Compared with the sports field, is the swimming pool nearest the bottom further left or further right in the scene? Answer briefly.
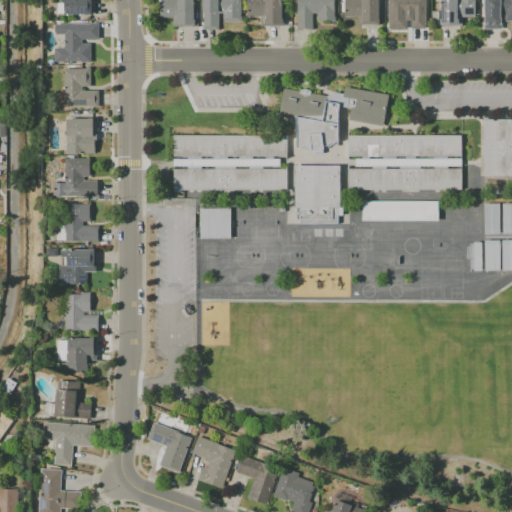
on its left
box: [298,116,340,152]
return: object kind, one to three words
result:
building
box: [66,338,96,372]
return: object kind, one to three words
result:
house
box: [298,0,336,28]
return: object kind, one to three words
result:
house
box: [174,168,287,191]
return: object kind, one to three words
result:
building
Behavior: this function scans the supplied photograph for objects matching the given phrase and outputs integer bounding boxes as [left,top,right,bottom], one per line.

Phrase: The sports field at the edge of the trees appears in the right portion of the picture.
[201,286,512,470]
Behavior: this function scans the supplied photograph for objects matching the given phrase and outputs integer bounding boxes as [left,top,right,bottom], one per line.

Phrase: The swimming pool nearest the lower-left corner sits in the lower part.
[35,376,56,402]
